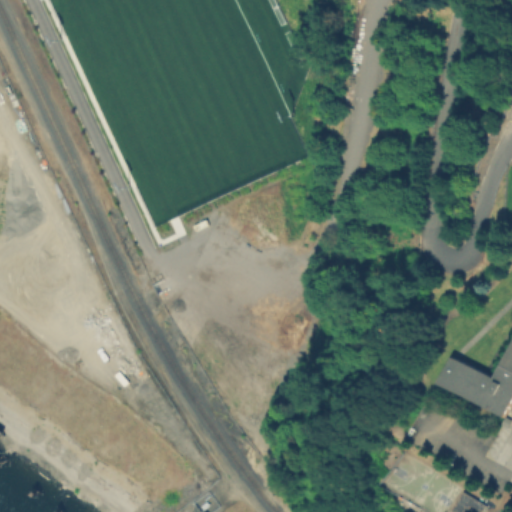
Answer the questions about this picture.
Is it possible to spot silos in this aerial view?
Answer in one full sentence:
No, the picture doesn't show any silo.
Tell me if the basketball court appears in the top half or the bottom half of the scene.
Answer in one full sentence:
You can find the basketball court in the bottom half.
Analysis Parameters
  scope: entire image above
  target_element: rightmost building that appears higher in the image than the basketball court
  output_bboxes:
[435,344,512,422]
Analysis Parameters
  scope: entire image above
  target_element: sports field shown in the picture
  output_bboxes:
[50,0,308,225]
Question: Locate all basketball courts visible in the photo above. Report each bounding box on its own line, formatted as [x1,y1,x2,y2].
[387,454,464,512]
